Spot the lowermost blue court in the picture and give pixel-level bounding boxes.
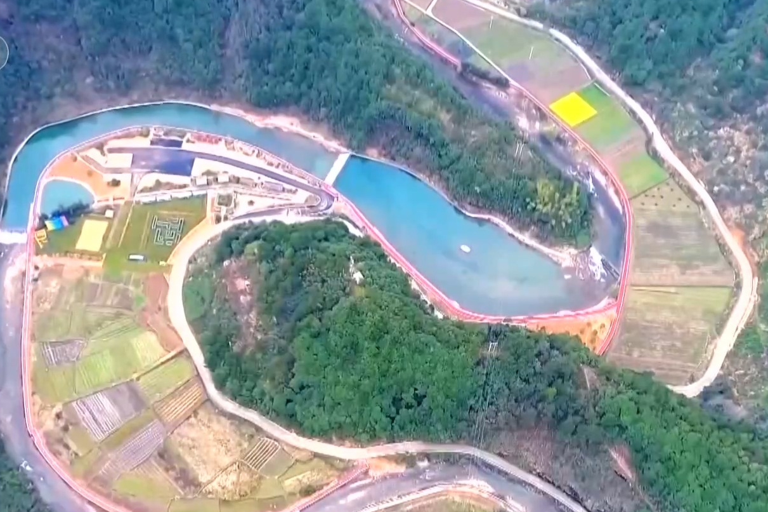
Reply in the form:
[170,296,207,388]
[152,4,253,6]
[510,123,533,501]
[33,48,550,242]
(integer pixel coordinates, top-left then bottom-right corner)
[159,160,194,176]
